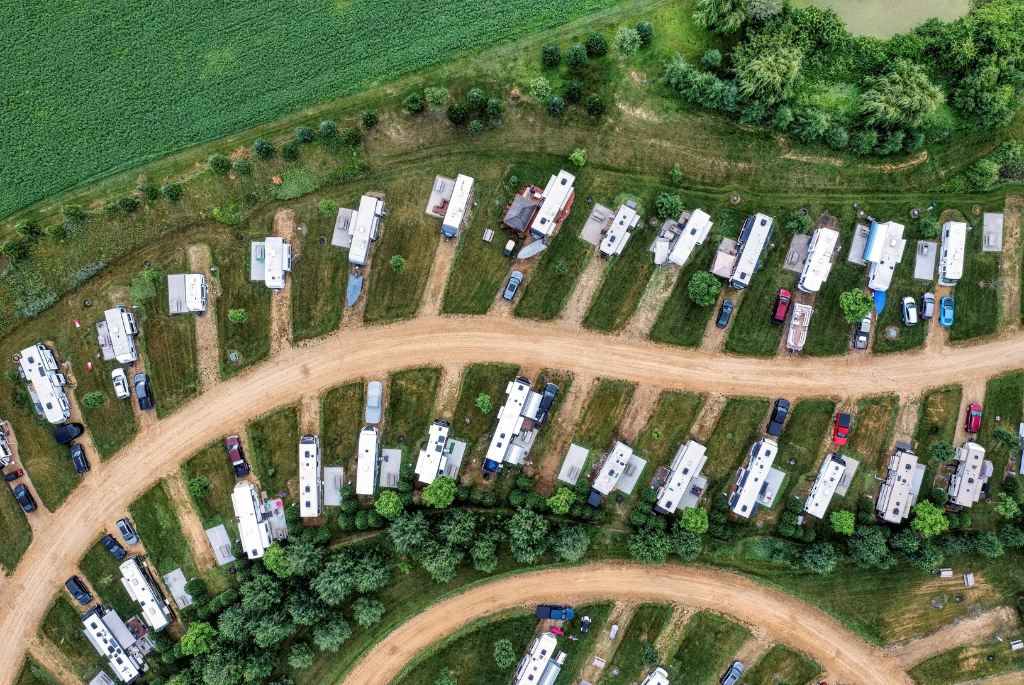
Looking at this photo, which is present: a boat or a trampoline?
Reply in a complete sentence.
Visible in the photo is a boat.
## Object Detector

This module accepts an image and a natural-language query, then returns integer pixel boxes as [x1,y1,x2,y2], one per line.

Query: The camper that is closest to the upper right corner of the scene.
[938,222,966,281]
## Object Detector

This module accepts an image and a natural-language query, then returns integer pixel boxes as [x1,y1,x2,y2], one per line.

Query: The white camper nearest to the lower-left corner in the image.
[83,609,145,685]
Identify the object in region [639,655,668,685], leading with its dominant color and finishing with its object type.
white vehicle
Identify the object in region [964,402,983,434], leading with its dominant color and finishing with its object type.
red car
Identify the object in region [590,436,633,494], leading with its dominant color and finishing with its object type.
white vehicle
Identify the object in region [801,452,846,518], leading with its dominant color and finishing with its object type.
white camper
